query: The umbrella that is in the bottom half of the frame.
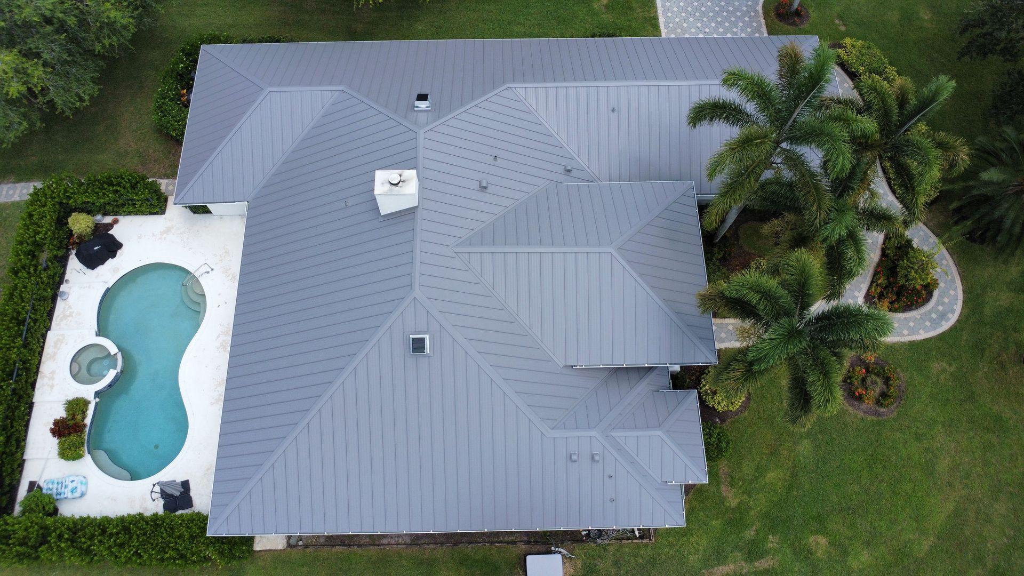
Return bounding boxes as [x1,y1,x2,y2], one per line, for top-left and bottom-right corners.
[150,479,194,513]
